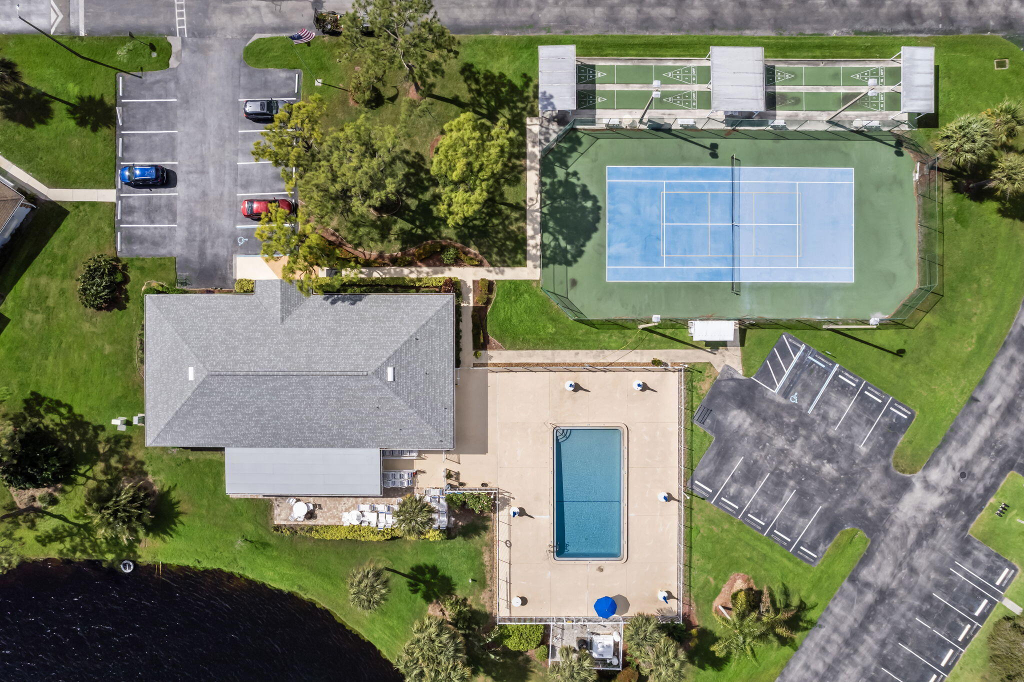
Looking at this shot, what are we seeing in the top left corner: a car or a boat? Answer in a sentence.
Looking in the top left corner, you will find a car.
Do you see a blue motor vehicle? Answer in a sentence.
Yes, this view includes a blue motor vehicle.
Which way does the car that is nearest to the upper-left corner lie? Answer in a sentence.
The car that is nearest to the upper-left corner is laid out from side to side.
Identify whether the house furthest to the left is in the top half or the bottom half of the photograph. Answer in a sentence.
It is in the top half that the house furthest to the left appears.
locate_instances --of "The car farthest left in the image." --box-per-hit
[121,162,168,186]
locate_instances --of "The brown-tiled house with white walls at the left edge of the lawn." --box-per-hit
[0,164,41,258]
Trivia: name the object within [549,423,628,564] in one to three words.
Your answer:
swimming pool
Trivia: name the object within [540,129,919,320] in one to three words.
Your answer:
tennis court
